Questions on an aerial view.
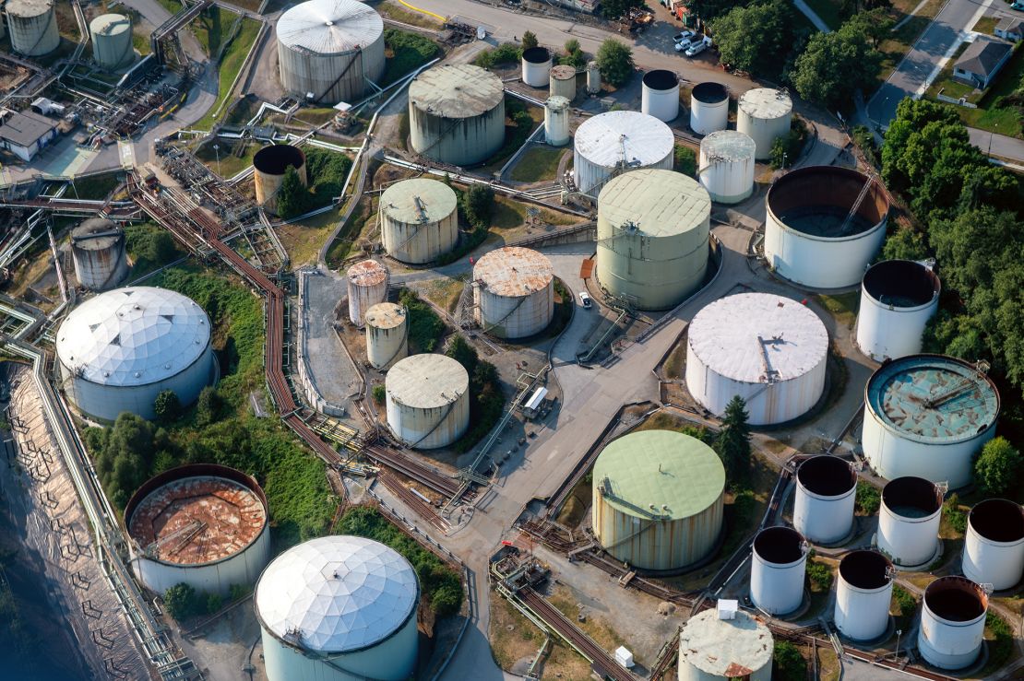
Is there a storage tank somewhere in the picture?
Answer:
Yes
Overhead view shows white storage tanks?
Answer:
Yes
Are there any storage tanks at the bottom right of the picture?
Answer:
Yes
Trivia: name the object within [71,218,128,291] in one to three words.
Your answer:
storage tank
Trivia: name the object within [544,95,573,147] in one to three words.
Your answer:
storage tank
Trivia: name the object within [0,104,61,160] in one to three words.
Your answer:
building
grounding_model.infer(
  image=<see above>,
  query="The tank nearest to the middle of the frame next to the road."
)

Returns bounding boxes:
[468,246,554,338]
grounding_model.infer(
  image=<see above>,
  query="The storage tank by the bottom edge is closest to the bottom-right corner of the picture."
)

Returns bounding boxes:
[913,575,996,674]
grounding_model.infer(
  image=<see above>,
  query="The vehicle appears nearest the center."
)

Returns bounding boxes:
[576,288,594,308]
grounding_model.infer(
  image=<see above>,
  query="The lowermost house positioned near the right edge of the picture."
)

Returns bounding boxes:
[951,34,1018,88]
